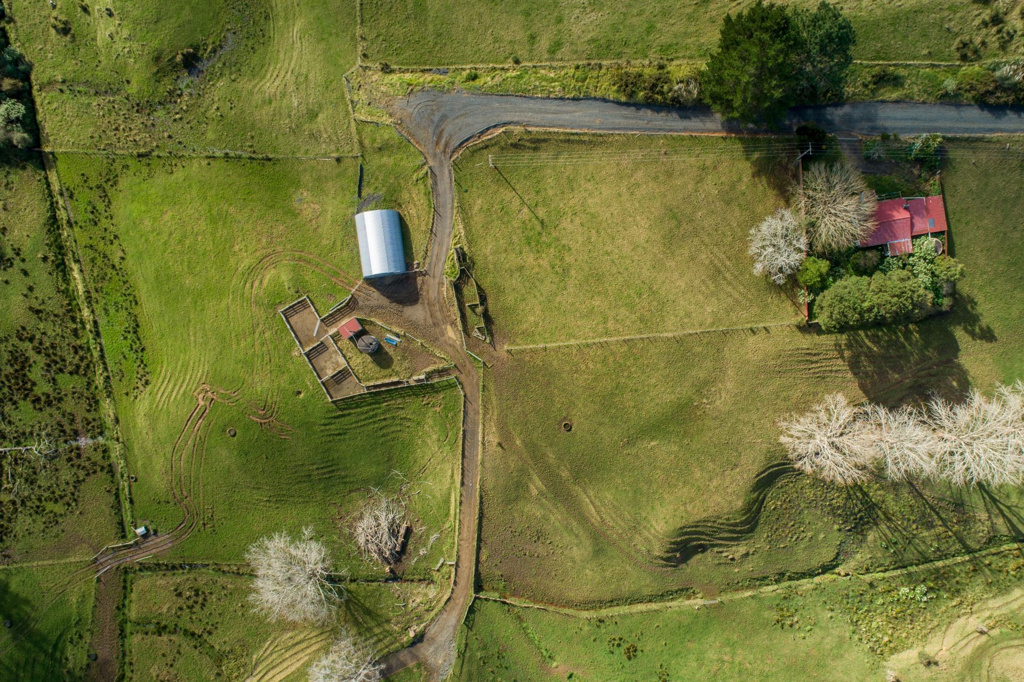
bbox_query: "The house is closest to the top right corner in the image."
[849,191,948,256]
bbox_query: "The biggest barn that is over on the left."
[356,209,406,278]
